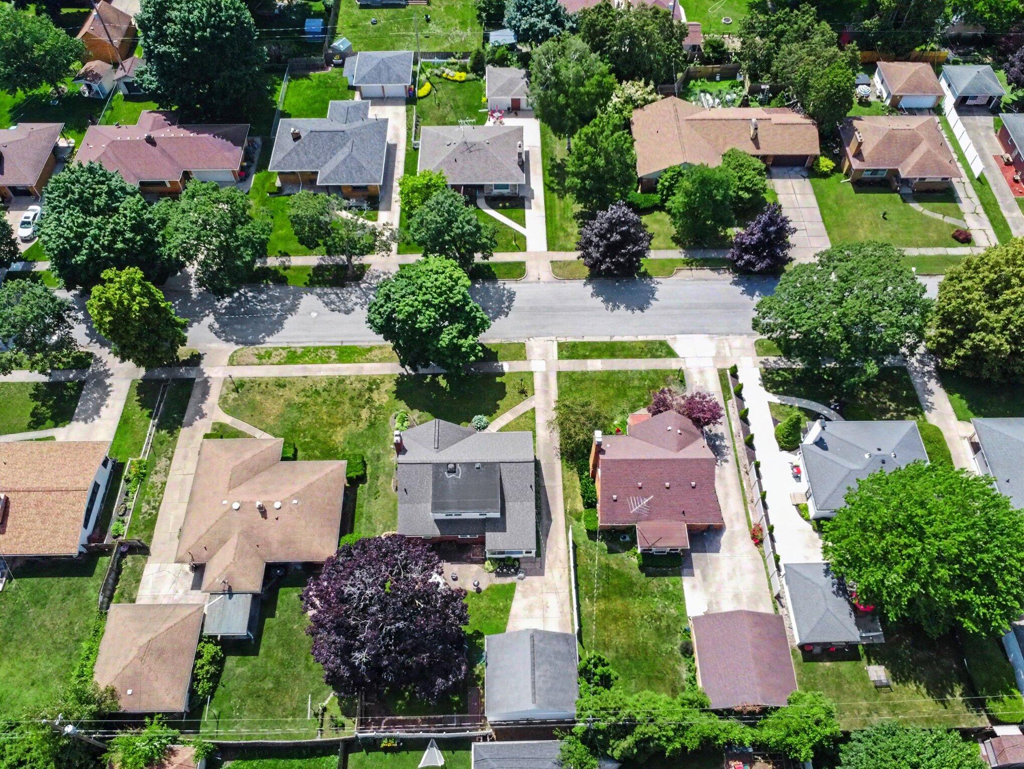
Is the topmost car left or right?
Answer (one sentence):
The topmost car sits on the left side.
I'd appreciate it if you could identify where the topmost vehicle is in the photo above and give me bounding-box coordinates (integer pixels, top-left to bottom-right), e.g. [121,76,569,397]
[13,202,39,236]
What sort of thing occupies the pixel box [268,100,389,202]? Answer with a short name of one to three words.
house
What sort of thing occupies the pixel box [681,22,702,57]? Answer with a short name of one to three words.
shed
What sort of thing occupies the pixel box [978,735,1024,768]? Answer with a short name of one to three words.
shed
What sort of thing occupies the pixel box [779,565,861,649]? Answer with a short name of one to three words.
building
